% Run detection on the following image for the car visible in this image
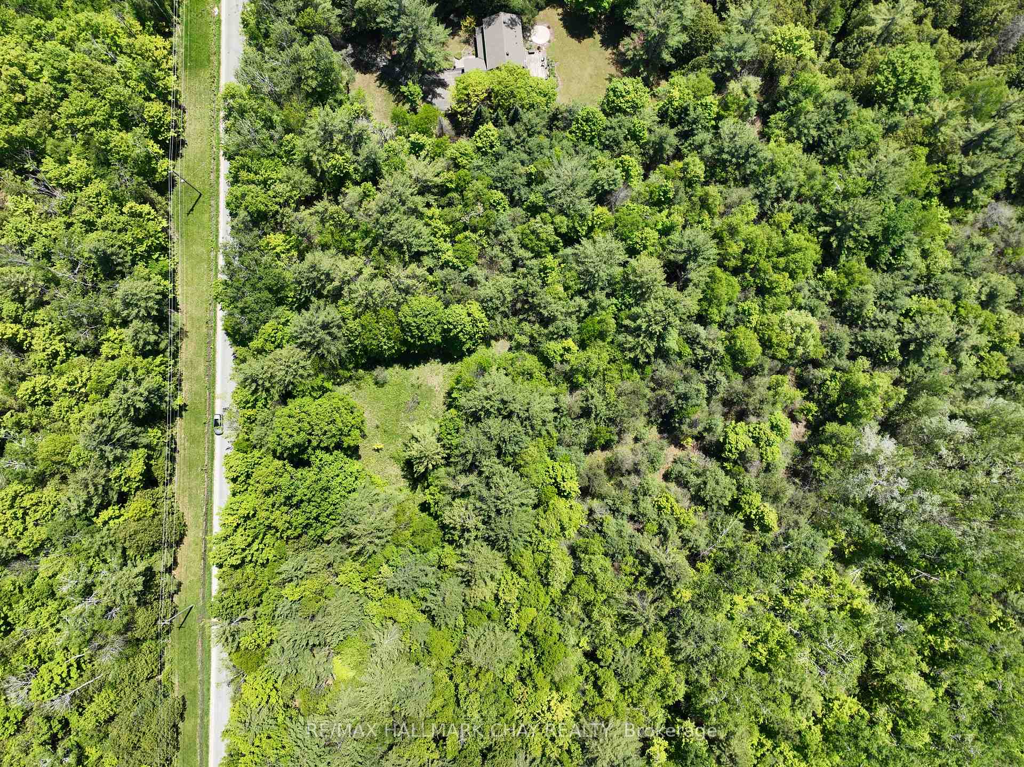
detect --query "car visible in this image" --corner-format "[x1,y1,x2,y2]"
[212,414,224,436]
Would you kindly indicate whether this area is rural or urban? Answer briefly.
rural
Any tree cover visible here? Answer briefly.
Yes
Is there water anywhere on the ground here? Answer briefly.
No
